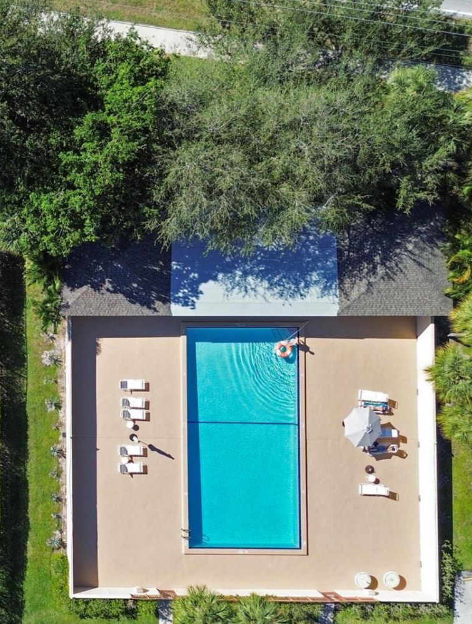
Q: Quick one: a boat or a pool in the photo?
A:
pool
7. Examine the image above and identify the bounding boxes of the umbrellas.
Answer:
[129,432,142,442]
[342,408,379,448]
